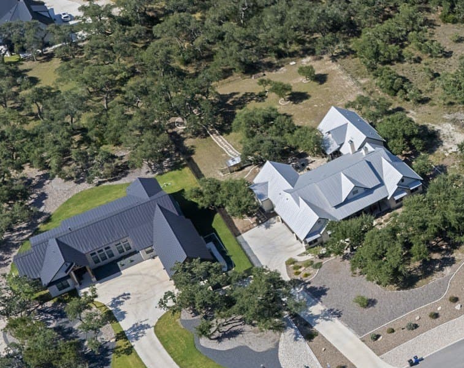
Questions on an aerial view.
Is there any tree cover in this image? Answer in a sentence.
Yes, tree cover can be seen from above here.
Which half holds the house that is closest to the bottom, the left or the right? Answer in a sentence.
The house that is closest to the bottom appears in the left half of the scene.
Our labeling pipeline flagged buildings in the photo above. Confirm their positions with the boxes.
[11,178,214,297]
[218,150,242,171]
[249,106,425,247]
[0,0,57,53]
